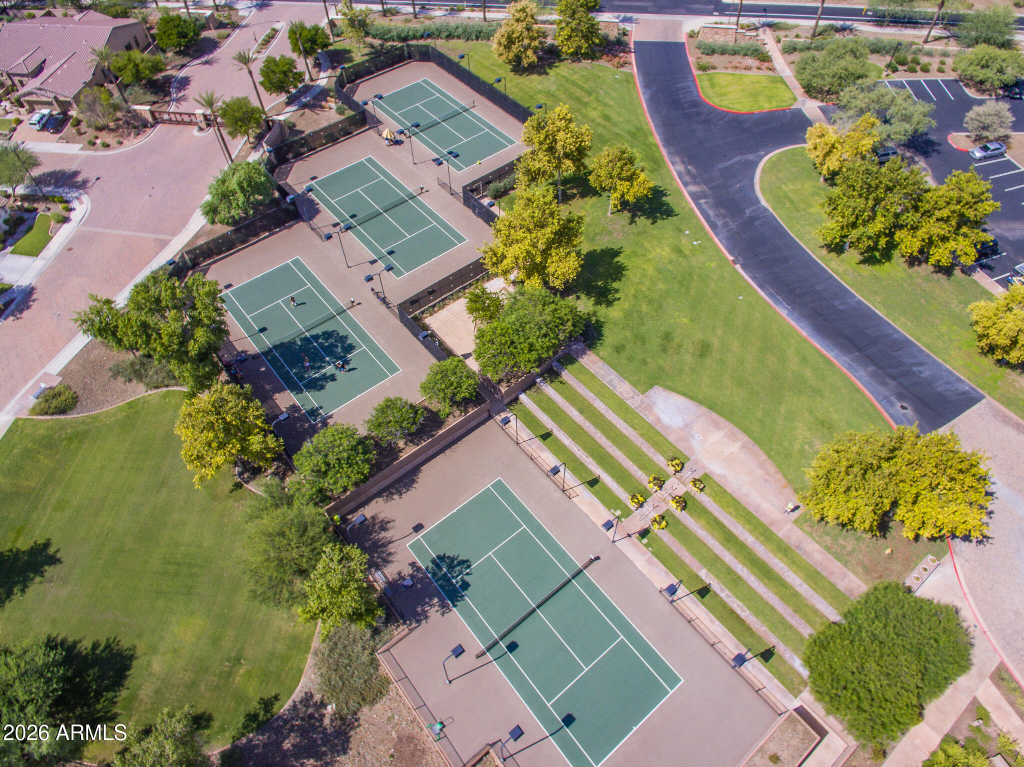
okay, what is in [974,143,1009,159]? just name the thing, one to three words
car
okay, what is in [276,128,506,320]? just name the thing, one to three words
tennis court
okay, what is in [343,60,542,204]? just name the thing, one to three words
tennis court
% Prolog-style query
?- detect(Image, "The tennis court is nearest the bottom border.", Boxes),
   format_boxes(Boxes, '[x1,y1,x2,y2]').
[335,417,781,767]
